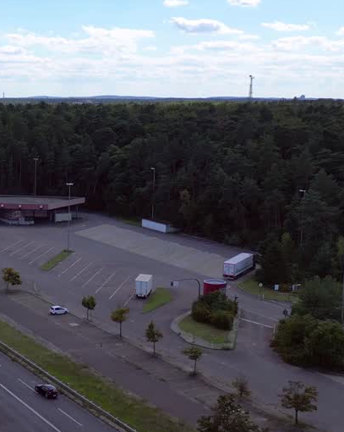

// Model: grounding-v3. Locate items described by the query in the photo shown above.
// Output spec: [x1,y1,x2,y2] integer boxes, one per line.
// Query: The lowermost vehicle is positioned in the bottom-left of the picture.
[34,382,60,398]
